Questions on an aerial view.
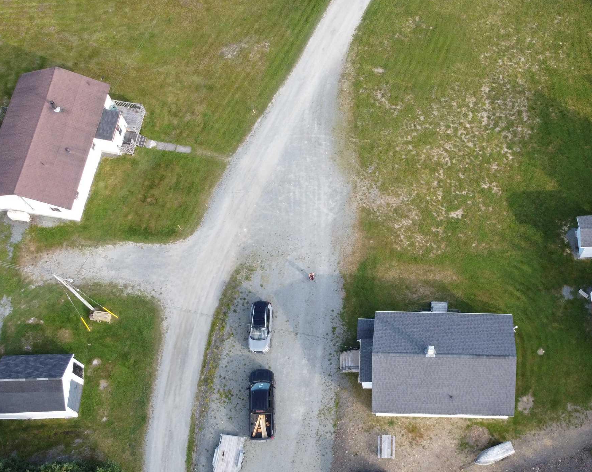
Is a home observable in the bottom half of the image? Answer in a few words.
Yes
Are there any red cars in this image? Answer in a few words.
No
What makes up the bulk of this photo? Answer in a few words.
grass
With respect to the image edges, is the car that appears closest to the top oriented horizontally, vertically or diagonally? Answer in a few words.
vertically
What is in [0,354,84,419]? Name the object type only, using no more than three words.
shed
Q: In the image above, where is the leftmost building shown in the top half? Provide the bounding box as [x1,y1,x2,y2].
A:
[0,66,129,222]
